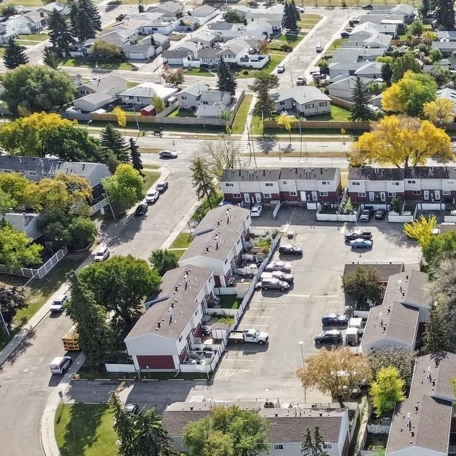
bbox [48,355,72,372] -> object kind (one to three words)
car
